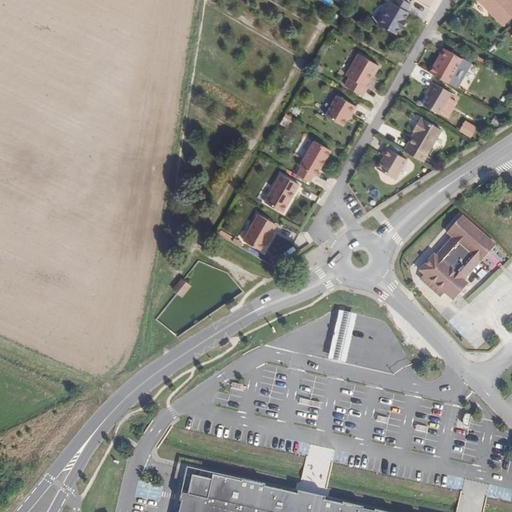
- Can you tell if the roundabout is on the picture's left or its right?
right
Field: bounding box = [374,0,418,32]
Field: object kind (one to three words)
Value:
house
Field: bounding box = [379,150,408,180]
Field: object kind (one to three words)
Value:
house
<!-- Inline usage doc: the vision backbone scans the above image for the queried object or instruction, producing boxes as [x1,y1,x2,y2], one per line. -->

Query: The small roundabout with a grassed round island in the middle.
[327,224,396,296]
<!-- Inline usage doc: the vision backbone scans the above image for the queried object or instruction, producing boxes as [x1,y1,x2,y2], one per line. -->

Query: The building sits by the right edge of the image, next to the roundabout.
[418,215,496,304]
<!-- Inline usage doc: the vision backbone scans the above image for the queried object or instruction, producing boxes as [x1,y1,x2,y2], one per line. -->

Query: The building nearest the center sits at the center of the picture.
[248,214,284,252]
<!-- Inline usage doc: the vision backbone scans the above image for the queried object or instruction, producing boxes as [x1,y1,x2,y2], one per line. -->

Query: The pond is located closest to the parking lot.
[154,260,245,337]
